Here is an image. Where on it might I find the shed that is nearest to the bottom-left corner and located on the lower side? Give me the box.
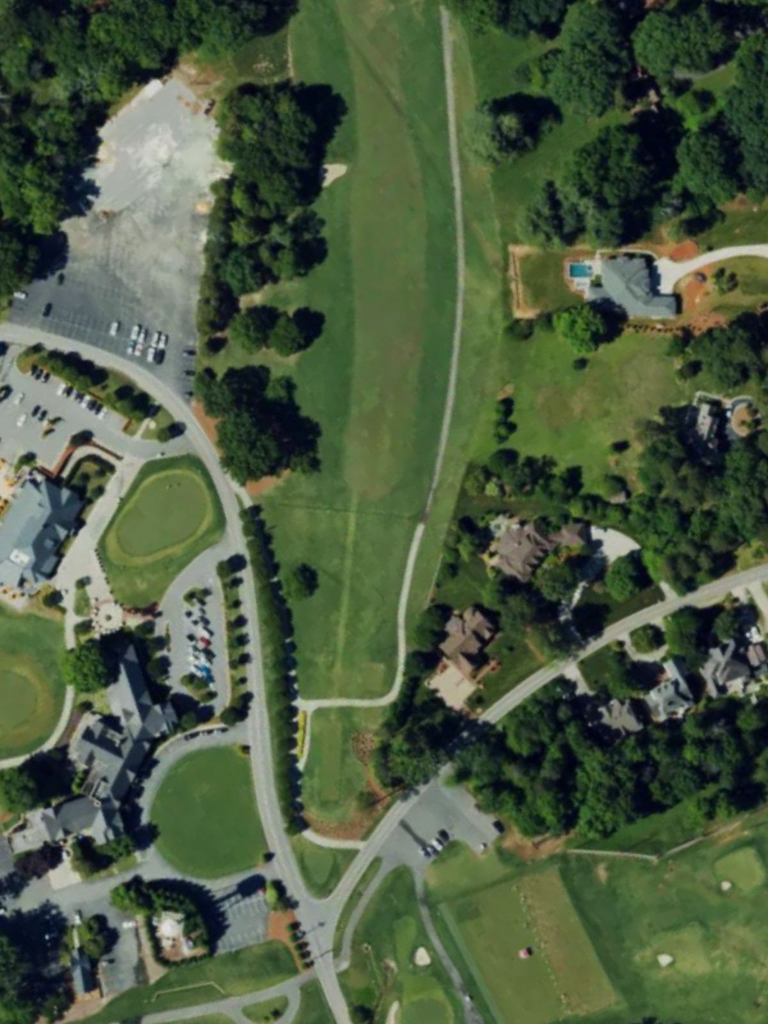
[66,951,91,1000]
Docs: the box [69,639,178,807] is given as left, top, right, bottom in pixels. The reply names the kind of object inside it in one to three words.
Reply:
building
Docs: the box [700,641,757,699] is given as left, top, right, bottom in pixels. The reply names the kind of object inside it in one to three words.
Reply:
house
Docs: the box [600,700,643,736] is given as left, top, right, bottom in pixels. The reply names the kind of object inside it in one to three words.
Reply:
house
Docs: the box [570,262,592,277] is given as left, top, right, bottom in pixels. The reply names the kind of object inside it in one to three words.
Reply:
swimming pool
